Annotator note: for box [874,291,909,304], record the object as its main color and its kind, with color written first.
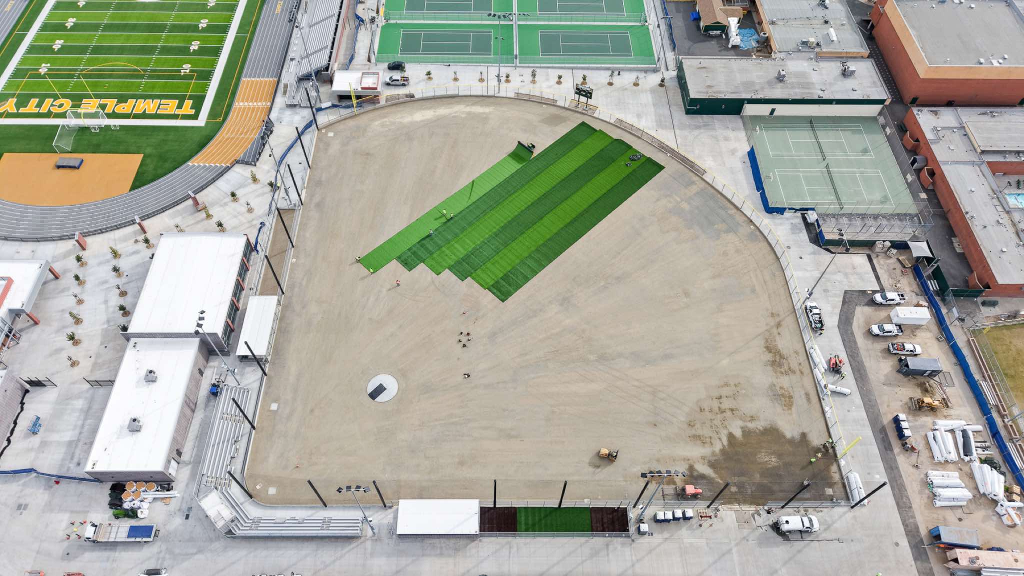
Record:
white vehicle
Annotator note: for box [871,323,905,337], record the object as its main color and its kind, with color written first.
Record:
white vehicle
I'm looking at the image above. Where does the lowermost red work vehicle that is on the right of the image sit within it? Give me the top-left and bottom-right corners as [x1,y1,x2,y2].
[684,485,706,500]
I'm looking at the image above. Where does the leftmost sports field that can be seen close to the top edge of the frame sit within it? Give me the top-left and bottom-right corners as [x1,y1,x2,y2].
[0,0,268,205]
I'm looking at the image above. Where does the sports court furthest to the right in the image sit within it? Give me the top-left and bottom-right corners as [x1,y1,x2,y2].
[742,115,922,215]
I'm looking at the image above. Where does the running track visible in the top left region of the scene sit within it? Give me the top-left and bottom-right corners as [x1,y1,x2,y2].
[0,0,301,238]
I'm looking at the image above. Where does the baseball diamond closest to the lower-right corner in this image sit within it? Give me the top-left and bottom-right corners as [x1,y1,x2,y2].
[970,325,1024,443]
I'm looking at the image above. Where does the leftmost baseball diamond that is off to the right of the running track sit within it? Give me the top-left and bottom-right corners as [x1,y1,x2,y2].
[246,94,855,506]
